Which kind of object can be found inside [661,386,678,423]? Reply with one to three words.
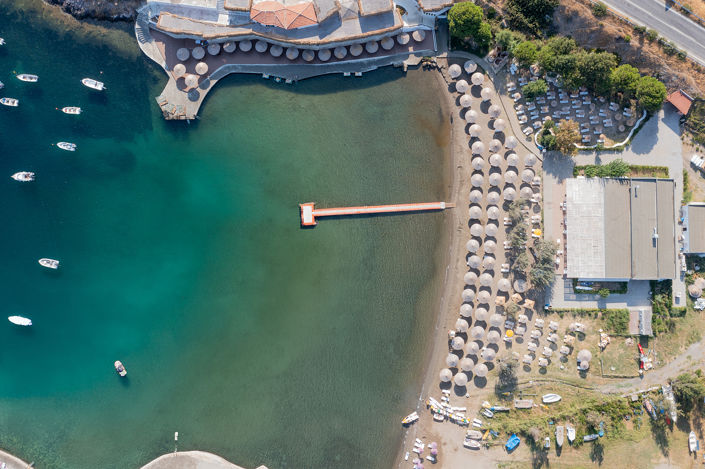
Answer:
boat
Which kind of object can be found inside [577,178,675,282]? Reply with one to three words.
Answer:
building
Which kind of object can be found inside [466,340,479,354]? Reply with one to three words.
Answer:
umbrella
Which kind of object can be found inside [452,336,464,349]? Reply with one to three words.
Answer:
umbrella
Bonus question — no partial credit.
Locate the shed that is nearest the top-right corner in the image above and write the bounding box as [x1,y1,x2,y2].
[664,87,696,114]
